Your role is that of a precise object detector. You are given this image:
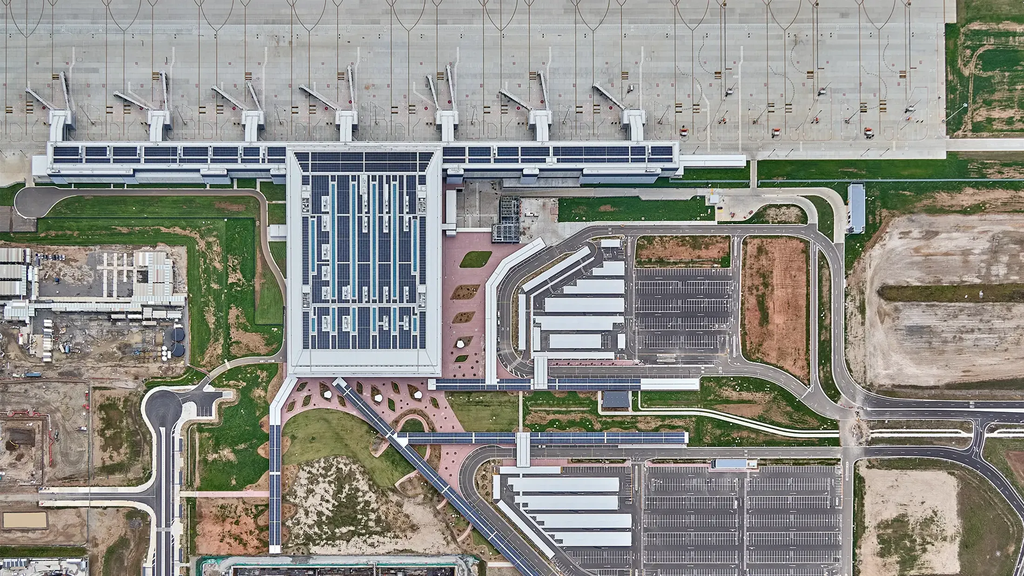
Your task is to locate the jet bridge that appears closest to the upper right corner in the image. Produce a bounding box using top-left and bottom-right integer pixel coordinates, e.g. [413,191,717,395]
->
[591,82,628,114]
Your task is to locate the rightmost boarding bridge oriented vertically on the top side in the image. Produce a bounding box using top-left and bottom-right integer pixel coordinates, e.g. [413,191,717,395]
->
[536,69,550,110]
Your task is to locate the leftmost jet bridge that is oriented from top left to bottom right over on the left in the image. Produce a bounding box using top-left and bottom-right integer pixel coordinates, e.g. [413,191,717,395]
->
[23,87,56,110]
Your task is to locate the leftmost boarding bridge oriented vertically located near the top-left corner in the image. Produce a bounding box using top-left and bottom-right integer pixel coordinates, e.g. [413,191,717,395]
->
[58,70,73,113]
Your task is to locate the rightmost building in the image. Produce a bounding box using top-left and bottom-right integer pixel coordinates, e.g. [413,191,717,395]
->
[846,184,865,234]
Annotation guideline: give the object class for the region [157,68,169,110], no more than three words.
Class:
jet bridge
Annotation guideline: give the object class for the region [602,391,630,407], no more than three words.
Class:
building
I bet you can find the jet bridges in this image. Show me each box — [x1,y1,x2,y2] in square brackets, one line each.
[536,69,550,110]
[157,68,169,110]
[443,64,456,111]
[591,82,628,114]
[245,80,264,111]
[111,91,151,112]
[424,73,440,113]
[345,64,356,111]
[58,70,73,113]
[297,84,338,114]
[209,85,245,113]
[23,87,56,110]
[498,88,533,113]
